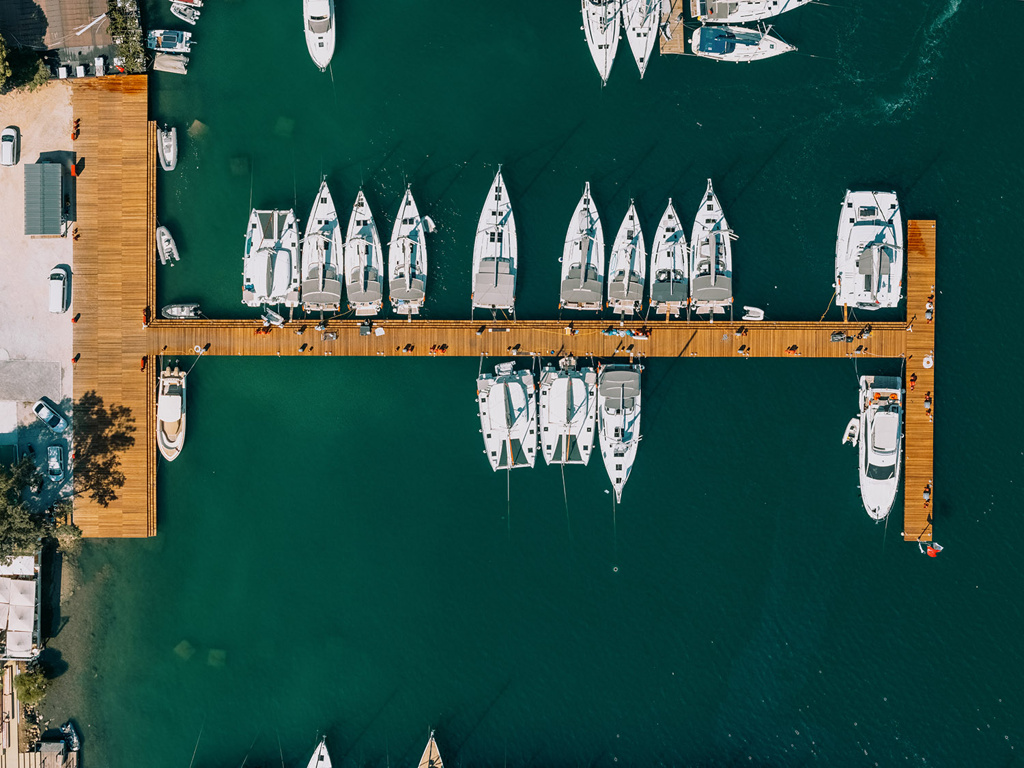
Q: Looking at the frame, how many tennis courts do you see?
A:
0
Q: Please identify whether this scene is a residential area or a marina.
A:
marina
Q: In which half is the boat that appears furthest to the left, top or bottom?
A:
bottom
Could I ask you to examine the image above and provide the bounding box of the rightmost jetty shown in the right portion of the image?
[904,220,937,542]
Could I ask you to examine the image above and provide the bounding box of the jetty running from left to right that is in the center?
[148,320,905,358]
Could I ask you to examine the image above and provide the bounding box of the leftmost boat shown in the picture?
[60,719,81,750]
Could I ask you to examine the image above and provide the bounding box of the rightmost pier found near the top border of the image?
[660,0,683,53]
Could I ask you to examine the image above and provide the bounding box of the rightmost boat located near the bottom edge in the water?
[420,728,444,768]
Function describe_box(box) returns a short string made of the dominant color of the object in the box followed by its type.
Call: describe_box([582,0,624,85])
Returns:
white boat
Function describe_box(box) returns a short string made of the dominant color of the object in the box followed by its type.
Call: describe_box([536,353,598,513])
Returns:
white boat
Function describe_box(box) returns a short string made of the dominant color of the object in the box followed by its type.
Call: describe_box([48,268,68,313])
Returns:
white vehicle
